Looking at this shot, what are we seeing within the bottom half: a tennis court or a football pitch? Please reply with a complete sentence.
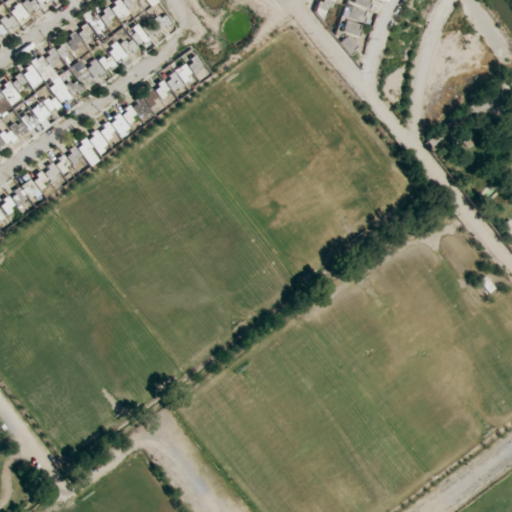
The feature located within the bottom half is a football pitch.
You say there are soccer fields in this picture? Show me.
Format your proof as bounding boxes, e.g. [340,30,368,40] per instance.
[301,246,512,499]
[0,211,180,462]
[186,318,400,512]
[178,22,408,282]
[82,453,180,512]
[58,128,285,372]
